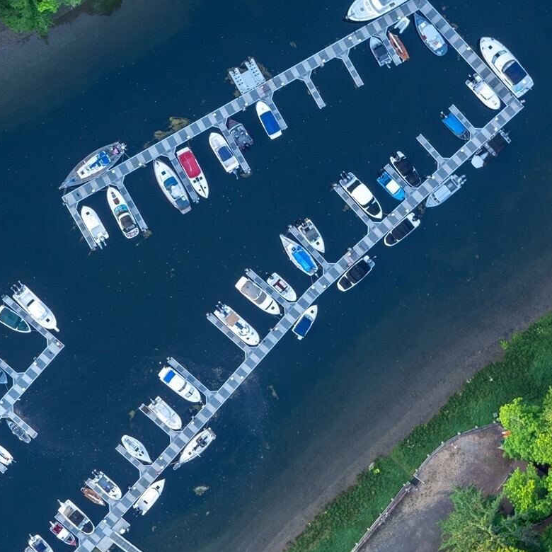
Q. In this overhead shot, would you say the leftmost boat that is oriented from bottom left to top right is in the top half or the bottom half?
top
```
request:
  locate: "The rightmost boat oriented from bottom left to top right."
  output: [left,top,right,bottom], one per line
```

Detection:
[471,132,511,168]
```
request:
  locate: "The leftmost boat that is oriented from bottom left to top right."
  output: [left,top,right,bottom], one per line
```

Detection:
[54,143,128,192]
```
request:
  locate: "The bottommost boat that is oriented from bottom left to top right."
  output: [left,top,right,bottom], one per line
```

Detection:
[131,479,165,517]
